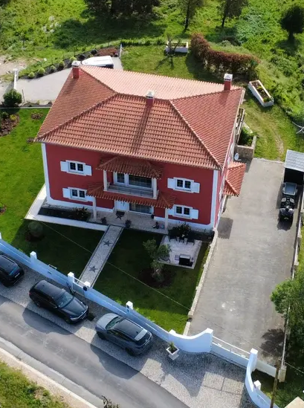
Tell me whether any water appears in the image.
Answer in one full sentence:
No, no water is visible.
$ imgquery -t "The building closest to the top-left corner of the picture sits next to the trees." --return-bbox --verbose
[32,63,248,237]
